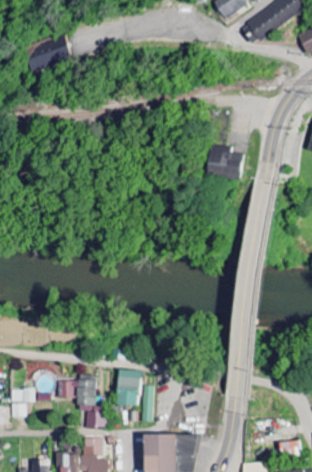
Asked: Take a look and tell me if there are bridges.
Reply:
Yes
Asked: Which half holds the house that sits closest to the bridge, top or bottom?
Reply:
top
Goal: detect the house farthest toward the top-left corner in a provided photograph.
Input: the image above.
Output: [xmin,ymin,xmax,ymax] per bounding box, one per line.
[28,36,73,70]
